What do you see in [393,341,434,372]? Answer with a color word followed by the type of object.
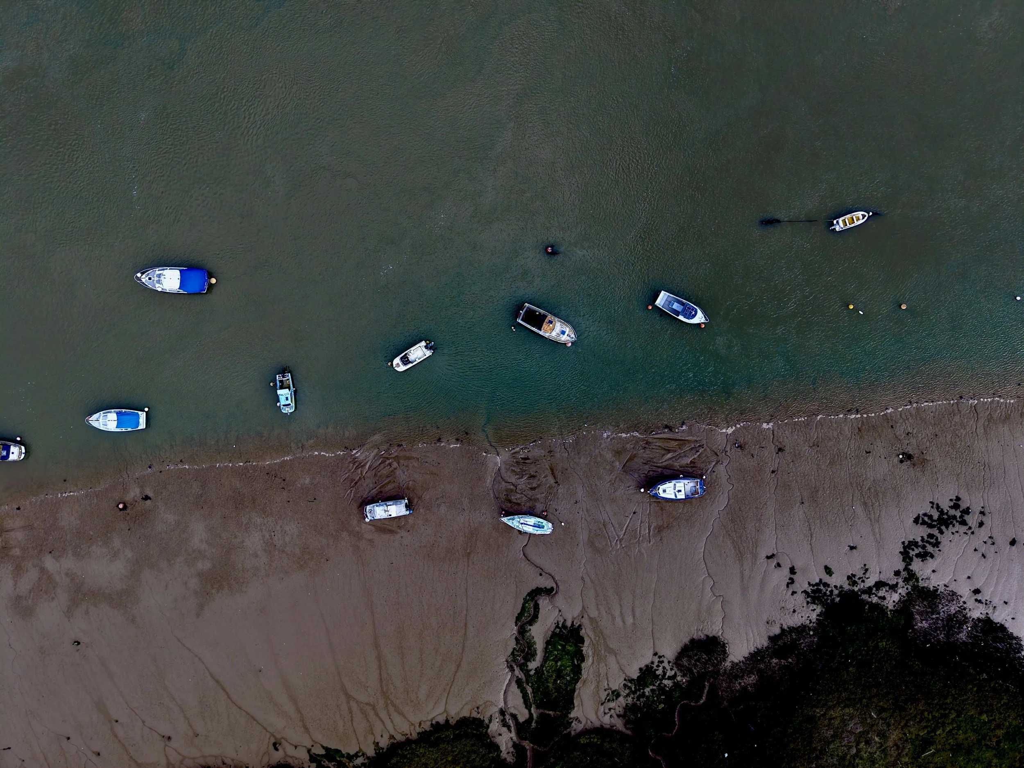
white boat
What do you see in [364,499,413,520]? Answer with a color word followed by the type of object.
white boat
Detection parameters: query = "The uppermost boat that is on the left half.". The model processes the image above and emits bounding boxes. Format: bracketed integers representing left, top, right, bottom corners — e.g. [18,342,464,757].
[134,267,210,294]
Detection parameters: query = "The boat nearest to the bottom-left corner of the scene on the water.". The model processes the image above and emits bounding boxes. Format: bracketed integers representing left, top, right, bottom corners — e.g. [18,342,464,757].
[0,440,27,461]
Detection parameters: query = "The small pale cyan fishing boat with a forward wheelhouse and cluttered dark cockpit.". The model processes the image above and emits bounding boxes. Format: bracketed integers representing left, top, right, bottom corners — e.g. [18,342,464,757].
[276,366,295,415]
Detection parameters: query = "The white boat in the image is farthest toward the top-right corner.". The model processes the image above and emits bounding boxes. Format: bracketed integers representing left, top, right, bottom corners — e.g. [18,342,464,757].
[828,211,869,231]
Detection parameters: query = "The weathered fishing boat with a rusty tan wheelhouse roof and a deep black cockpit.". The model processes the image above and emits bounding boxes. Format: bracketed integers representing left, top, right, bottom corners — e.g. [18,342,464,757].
[516,303,577,343]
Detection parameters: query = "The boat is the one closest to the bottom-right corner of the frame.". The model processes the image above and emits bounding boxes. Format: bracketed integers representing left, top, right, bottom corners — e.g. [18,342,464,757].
[648,478,707,501]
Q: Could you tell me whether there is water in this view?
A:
Yes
